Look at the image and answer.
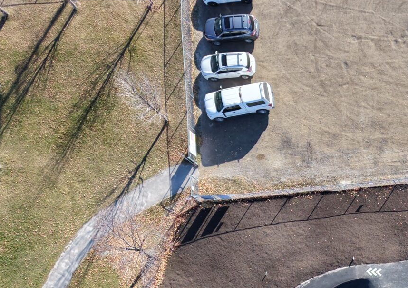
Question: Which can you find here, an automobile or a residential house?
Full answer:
It is an automobile that can be seen here.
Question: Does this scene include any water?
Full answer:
No, there is no water in the image.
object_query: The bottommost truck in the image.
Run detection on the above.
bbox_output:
[202,80,275,121]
